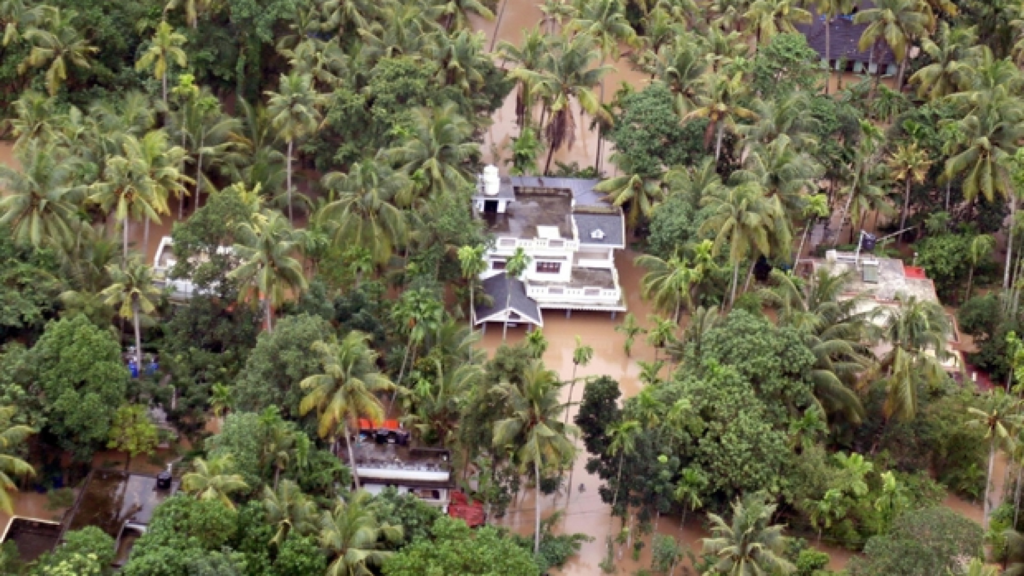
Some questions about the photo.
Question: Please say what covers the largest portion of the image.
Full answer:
The largest share of the image is taken up by trees.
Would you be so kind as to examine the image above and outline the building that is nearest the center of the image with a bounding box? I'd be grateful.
[471,176,628,334]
